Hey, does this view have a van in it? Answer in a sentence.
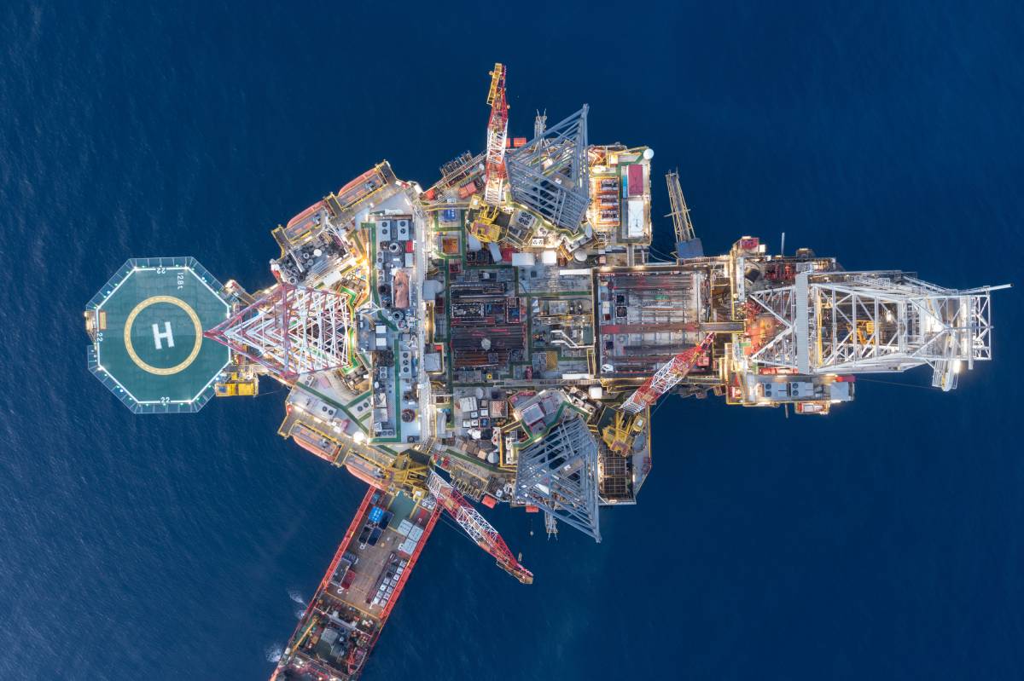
No, I find no van anywhere in the image.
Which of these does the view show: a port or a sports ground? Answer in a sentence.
The picture captures a port.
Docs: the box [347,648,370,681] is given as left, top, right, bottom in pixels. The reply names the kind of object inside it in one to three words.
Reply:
boat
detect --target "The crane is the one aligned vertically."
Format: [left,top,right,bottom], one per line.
[467,61,512,245]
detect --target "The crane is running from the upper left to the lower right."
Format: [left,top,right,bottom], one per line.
[387,448,534,585]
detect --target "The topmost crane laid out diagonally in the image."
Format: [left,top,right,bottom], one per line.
[597,329,718,455]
